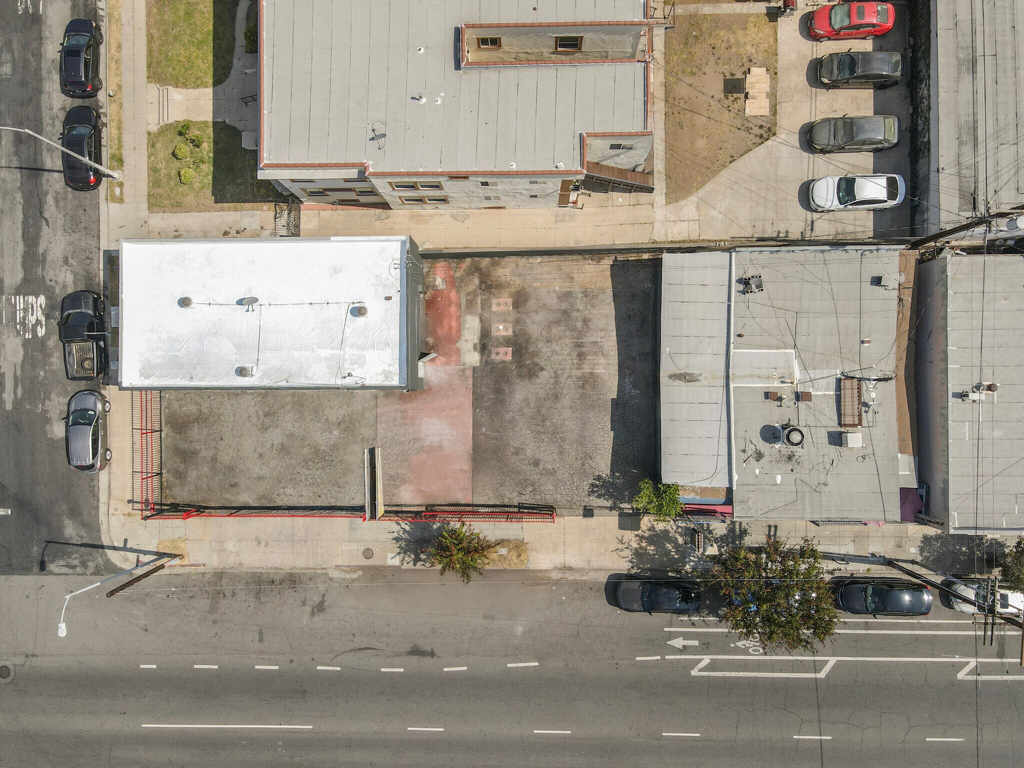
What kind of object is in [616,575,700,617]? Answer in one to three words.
car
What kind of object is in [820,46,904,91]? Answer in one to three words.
car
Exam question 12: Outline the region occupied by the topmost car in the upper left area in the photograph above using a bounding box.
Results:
[54,21,106,96]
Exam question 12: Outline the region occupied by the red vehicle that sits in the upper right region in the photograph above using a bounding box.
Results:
[810,0,896,42]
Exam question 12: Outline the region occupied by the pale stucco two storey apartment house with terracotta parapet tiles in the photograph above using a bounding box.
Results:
[249,0,666,214]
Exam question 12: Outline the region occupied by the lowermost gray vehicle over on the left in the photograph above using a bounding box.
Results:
[60,391,113,473]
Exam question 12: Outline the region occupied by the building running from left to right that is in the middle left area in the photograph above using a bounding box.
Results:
[120,238,439,395]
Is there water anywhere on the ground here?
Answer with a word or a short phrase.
No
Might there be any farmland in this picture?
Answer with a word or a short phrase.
No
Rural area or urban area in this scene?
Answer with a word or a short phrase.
urban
